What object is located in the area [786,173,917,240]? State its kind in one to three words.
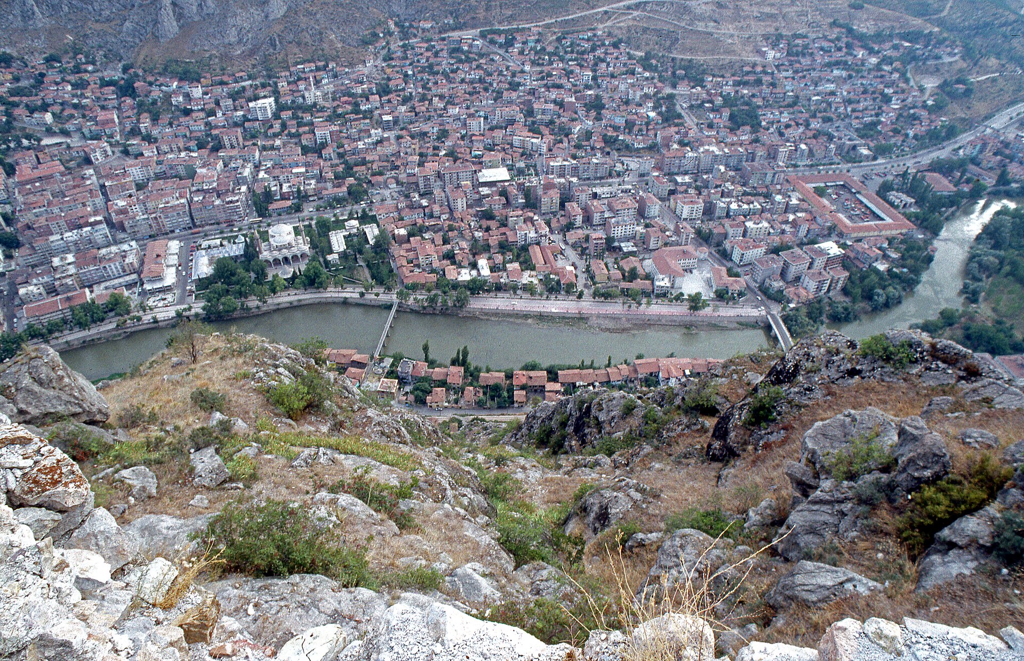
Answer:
building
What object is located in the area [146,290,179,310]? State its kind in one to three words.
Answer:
house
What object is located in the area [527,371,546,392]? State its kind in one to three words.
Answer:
house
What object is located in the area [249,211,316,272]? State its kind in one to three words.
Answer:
building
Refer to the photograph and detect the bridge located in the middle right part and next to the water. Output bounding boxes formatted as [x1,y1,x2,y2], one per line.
[762,313,789,348]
